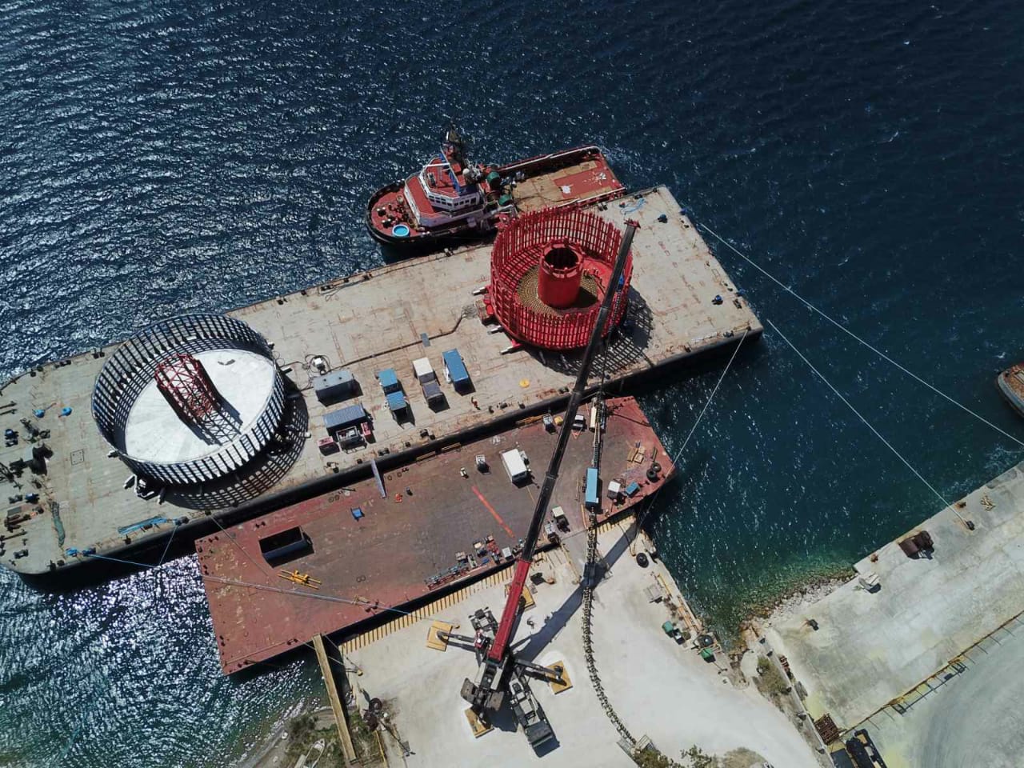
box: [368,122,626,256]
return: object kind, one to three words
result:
boat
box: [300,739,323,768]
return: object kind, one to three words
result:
boat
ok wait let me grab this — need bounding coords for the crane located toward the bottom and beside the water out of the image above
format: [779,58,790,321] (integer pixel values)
[433,225,639,753]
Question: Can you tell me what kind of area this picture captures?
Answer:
port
